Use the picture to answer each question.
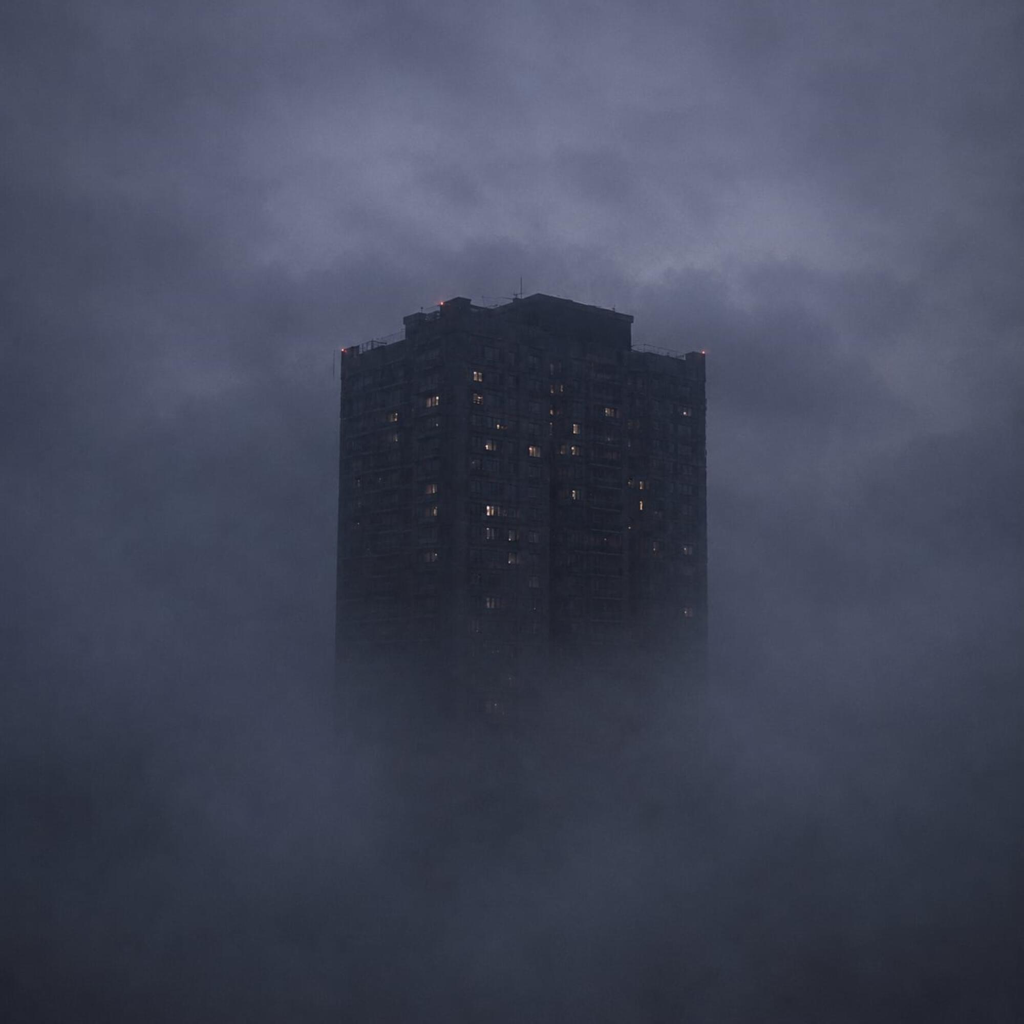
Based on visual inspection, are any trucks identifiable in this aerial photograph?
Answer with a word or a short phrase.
No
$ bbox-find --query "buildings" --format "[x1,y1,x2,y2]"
[331,293,712,1014]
